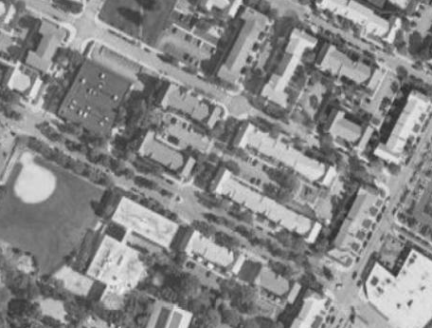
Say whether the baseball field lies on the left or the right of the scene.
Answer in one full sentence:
The baseball field appears in the left half of the scene.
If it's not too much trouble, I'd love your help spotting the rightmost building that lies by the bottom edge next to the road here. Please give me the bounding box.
[366,249,432,328]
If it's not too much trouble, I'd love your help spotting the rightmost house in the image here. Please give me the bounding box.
[415,7,432,34]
